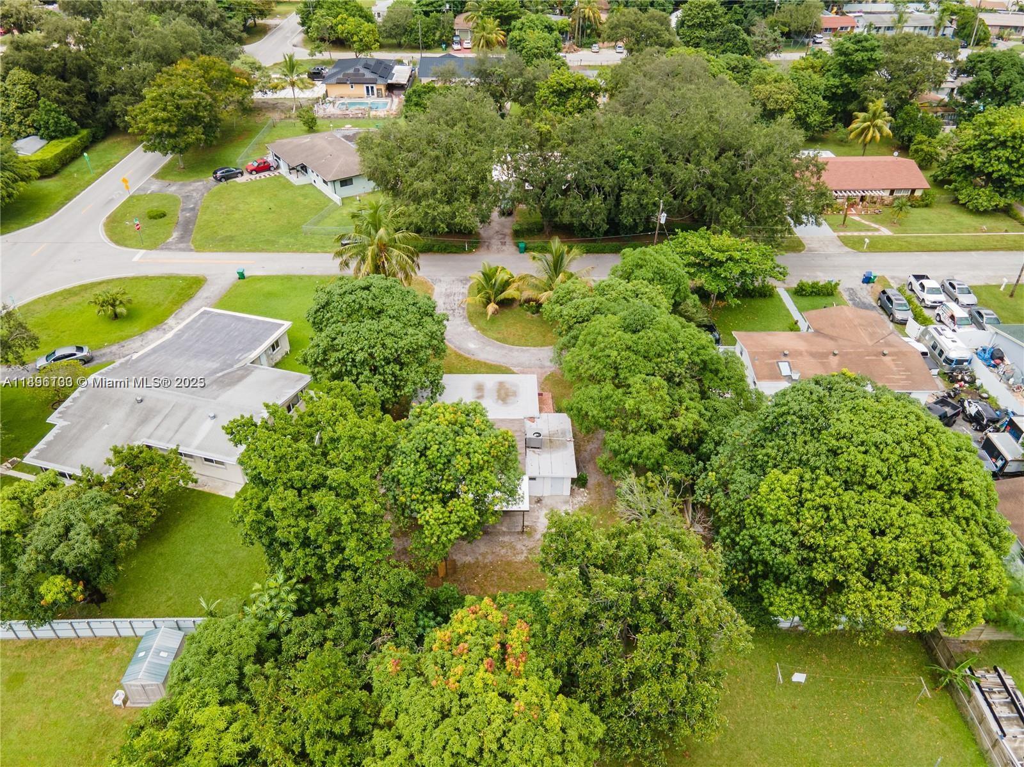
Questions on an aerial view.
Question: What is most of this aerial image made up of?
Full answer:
The bulk of the photo consists of trees.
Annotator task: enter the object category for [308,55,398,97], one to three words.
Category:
house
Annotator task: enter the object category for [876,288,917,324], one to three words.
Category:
car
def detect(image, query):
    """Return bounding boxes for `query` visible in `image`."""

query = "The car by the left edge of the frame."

[28,345,96,372]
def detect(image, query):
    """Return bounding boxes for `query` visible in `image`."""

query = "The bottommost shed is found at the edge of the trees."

[119,626,192,712]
